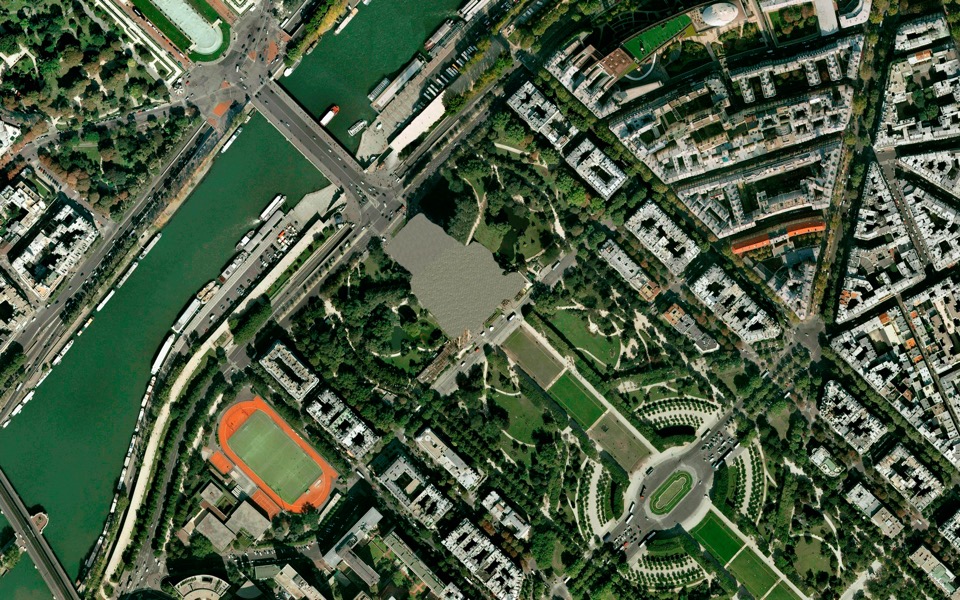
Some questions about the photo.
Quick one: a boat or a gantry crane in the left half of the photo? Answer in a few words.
boat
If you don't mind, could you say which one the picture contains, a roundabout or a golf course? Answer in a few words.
roundabout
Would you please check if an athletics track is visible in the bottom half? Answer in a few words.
Yes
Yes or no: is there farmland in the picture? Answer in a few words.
No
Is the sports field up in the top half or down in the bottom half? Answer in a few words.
bottom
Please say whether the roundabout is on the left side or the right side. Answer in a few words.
right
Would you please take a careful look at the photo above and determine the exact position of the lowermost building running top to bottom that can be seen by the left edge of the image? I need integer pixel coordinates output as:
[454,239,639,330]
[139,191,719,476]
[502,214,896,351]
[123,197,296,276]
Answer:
[0,278,33,349]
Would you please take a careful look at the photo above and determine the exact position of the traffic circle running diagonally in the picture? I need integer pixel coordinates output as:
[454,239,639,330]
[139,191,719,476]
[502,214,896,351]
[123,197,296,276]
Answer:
[589,398,753,567]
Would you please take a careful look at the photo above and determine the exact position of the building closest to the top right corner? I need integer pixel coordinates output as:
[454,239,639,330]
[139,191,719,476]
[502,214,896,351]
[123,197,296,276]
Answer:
[893,12,951,52]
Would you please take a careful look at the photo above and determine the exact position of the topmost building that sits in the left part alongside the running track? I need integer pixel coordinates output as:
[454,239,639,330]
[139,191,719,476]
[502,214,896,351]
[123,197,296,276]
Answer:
[259,340,320,401]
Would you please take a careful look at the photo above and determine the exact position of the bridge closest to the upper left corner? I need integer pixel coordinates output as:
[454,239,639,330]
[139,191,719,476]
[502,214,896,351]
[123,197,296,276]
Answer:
[252,82,364,184]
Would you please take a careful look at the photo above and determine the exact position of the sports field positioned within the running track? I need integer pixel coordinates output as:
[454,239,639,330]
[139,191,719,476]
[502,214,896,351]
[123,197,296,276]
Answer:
[228,409,323,503]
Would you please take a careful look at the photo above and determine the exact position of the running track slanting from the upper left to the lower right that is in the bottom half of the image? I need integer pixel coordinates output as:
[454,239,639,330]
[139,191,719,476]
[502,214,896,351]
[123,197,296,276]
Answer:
[219,396,338,513]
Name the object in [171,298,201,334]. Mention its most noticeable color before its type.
white vessel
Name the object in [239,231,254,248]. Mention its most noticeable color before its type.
white boat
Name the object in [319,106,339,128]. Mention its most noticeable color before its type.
white boat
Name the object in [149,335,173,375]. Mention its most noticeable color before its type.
white vessel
